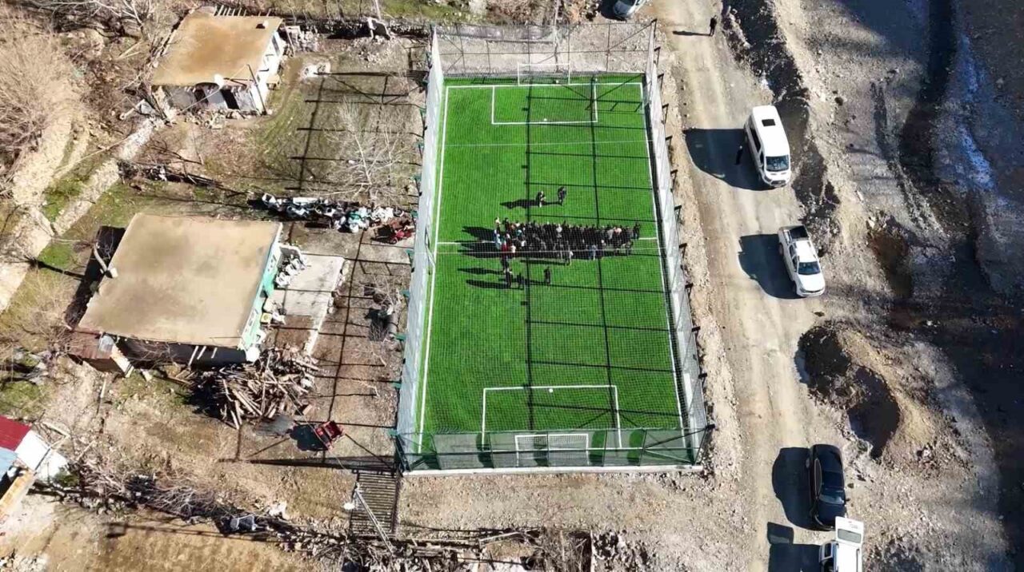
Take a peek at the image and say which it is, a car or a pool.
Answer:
car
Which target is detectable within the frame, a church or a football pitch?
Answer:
football pitch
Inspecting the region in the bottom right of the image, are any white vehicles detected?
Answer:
Yes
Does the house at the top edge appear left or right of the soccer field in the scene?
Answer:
to its left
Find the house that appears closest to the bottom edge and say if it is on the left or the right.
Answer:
left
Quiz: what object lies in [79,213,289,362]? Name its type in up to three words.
house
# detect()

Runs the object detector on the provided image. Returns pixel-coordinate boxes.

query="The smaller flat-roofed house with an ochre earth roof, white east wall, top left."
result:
[153,9,290,112]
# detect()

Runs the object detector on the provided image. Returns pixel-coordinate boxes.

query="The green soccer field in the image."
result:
[403,67,702,477]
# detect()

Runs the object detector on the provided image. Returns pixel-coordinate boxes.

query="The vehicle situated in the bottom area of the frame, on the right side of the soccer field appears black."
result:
[808,442,857,534]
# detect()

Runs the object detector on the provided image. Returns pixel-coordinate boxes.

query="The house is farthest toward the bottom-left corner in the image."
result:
[0,411,63,540]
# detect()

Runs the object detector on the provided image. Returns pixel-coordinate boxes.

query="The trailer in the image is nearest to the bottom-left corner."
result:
[310,418,348,456]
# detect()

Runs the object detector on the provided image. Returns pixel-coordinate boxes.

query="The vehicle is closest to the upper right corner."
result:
[745,102,798,186]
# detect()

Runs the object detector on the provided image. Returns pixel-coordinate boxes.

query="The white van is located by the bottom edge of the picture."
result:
[822,519,868,572]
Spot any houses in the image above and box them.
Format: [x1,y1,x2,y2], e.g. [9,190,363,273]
[0,411,63,540]
[153,9,290,112]
[79,213,289,362]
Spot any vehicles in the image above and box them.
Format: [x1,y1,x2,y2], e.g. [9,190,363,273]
[745,102,798,186]
[822,519,868,572]
[617,0,650,17]
[808,442,857,534]
[778,226,831,299]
